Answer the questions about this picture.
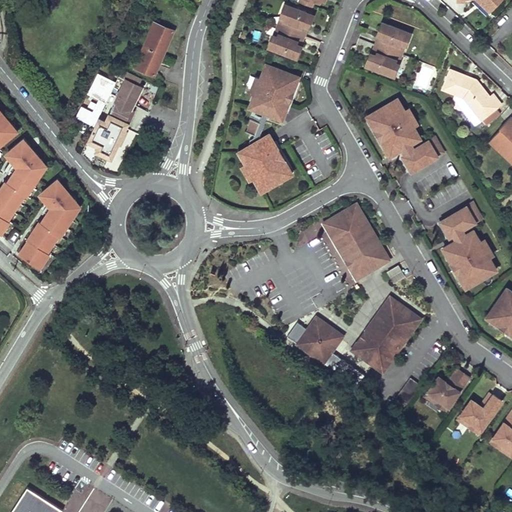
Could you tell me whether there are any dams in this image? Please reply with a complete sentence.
No, there is no dam in the image.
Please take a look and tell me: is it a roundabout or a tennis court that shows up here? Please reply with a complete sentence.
Looking from above, you can make out a roundabout.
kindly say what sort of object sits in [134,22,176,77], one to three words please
building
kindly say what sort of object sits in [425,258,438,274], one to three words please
vehicle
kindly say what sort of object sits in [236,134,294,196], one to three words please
house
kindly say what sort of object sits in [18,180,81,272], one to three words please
house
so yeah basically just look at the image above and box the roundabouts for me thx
[110,176,204,270]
